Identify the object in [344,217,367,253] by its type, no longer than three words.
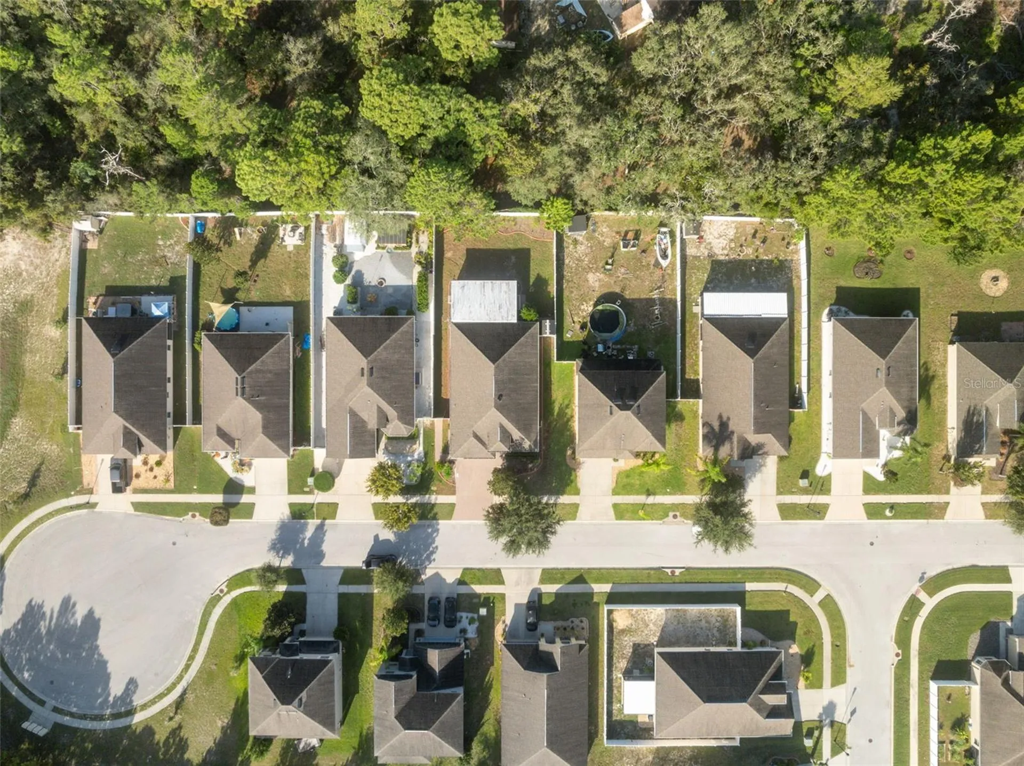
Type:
shed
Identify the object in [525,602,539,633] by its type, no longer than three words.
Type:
car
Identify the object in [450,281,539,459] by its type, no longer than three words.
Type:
house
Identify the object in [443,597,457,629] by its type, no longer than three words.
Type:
car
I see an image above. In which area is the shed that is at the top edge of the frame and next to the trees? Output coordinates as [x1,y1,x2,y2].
[605,0,660,42]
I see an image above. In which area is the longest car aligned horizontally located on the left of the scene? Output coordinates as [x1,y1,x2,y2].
[363,555,396,570]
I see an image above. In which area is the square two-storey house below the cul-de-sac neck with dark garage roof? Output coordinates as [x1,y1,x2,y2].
[248,635,343,739]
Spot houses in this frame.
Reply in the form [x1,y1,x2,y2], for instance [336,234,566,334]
[699,292,789,461]
[374,638,465,764]
[501,633,588,766]
[621,646,795,739]
[826,318,919,459]
[202,333,295,458]
[248,635,343,739]
[947,341,1024,458]
[326,316,415,459]
[968,632,1024,766]
[81,317,176,460]
[574,359,666,460]
[450,281,539,459]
